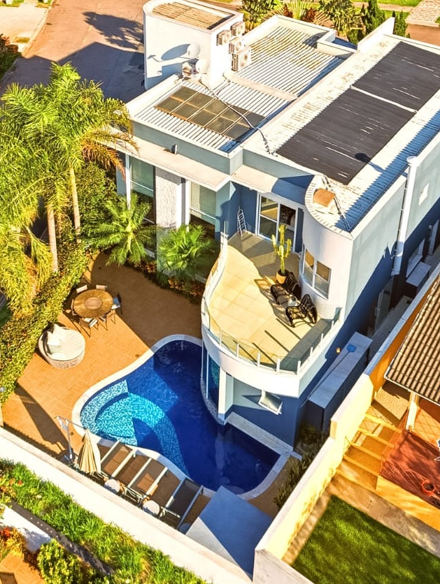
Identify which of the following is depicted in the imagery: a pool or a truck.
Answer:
pool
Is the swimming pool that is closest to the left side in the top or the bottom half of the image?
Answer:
bottom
